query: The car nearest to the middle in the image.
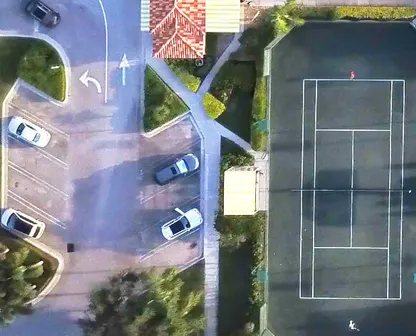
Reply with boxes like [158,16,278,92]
[155,153,201,184]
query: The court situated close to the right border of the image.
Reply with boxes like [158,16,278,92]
[267,25,416,336]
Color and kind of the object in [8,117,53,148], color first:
white car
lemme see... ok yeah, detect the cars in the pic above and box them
[155,153,201,184]
[8,117,53,148]
[0,207,47,241]
[21,0,64,28]
[159,208,204,241]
